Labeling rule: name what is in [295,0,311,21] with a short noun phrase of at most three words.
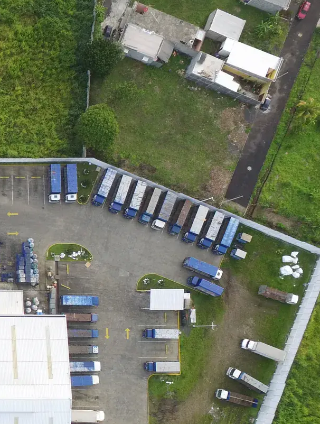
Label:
vehicle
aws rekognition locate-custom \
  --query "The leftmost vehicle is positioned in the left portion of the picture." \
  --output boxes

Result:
[46,164,61,203]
